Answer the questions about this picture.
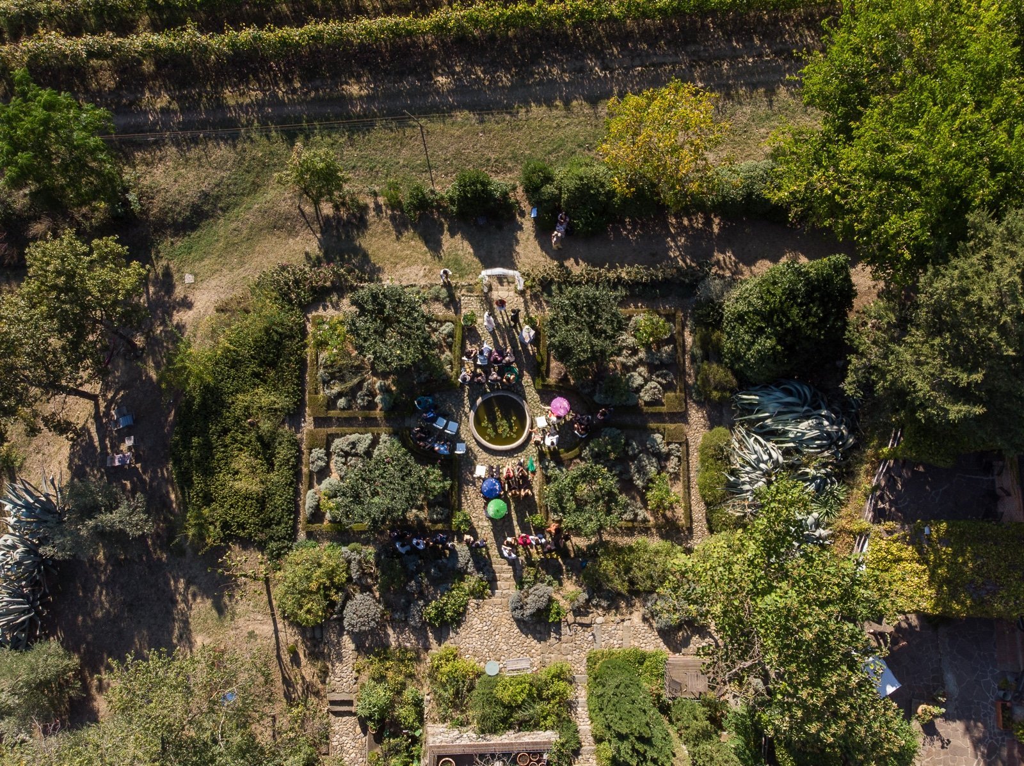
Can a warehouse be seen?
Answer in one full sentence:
No, there isn't any warehouse down there.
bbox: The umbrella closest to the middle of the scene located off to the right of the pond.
[549,398,569,418]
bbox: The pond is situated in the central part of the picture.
[469,391,532,453]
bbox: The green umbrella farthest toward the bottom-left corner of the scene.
[487,500,508,521]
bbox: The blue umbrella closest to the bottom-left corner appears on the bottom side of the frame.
[482,479,502,499]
